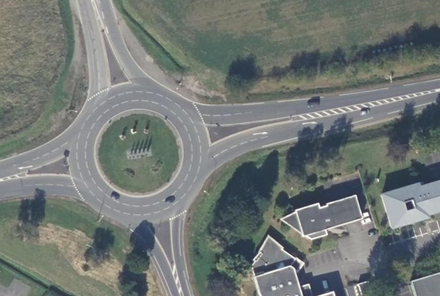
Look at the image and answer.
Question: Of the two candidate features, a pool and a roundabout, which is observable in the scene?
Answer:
roundabout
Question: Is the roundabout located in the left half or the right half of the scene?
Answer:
left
